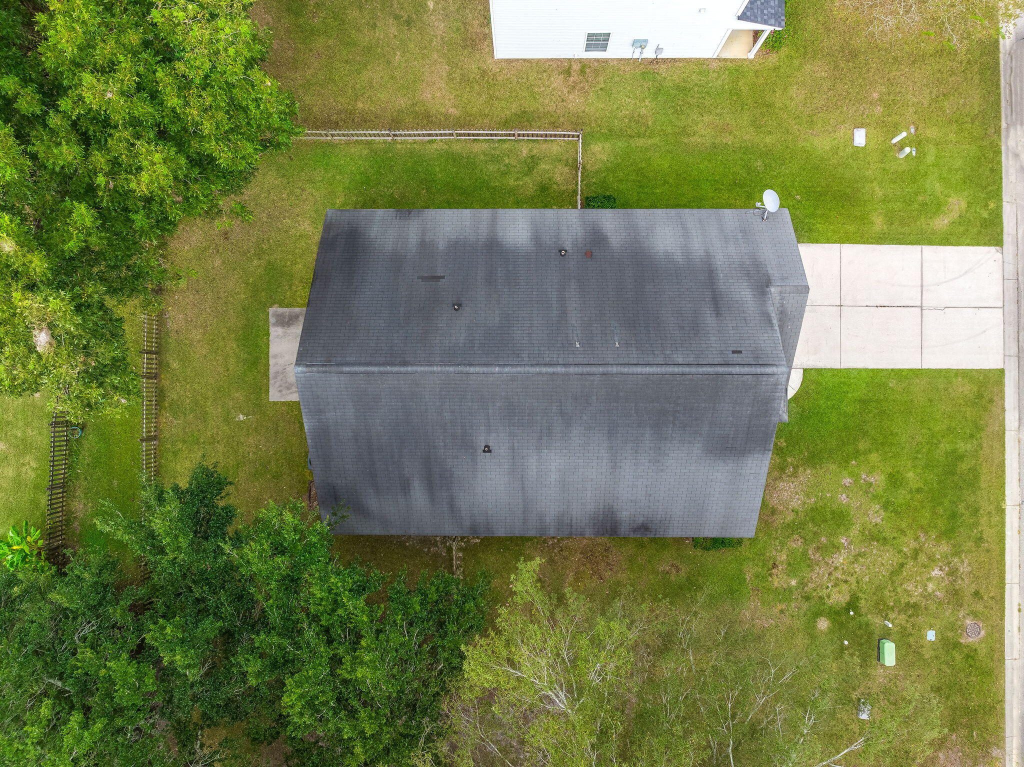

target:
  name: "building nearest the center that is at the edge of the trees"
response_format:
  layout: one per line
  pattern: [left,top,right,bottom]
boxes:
[296,207,811,538]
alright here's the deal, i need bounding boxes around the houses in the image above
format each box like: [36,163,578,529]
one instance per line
[296,207,811,538]
[490,0,785,59]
